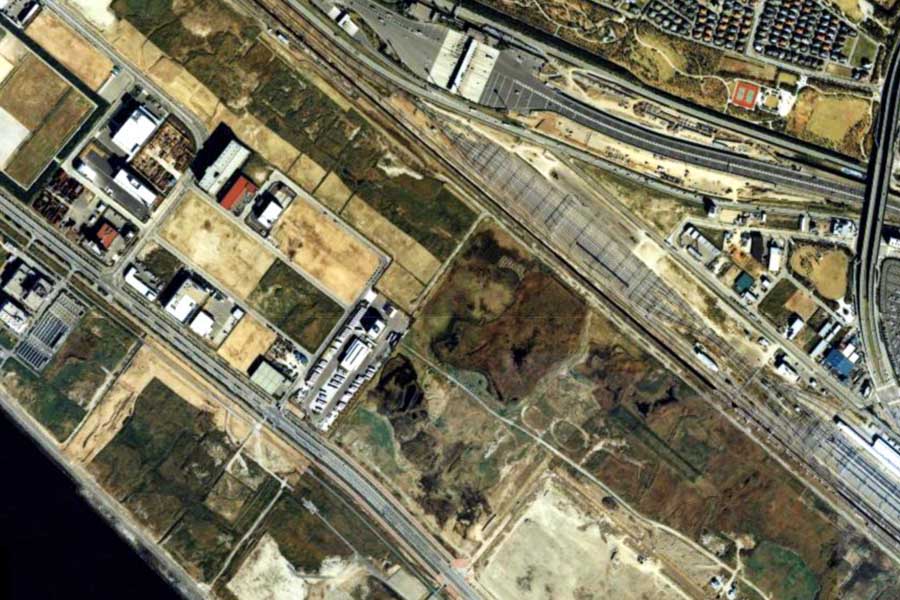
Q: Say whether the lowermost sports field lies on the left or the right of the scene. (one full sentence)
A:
You can find the lowermost sports field on the right side of the picture.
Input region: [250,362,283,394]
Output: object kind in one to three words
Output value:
building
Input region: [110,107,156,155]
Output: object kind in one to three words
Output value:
building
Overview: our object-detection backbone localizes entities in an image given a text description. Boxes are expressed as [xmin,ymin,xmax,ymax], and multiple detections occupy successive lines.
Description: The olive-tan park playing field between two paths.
[805,97,870,141]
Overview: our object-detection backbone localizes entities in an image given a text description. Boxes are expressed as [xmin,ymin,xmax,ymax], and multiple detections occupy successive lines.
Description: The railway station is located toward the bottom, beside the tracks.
[830,423,900,524]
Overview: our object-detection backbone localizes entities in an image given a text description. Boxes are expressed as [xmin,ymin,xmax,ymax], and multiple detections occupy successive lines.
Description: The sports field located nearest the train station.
[793,246,849,299]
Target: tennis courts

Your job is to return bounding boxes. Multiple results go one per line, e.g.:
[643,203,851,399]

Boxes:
[731,80,749,106]
[743,83,760,110]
